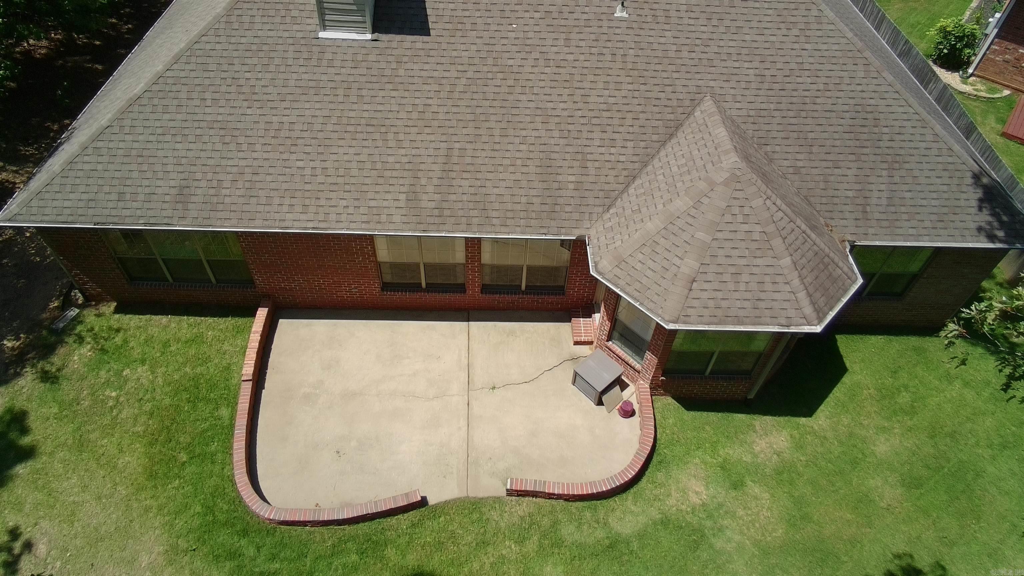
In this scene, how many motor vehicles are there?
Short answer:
none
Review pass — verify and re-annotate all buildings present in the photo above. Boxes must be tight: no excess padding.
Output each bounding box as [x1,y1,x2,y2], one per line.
[0,0,1024,399]
[970,0,1024,93]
